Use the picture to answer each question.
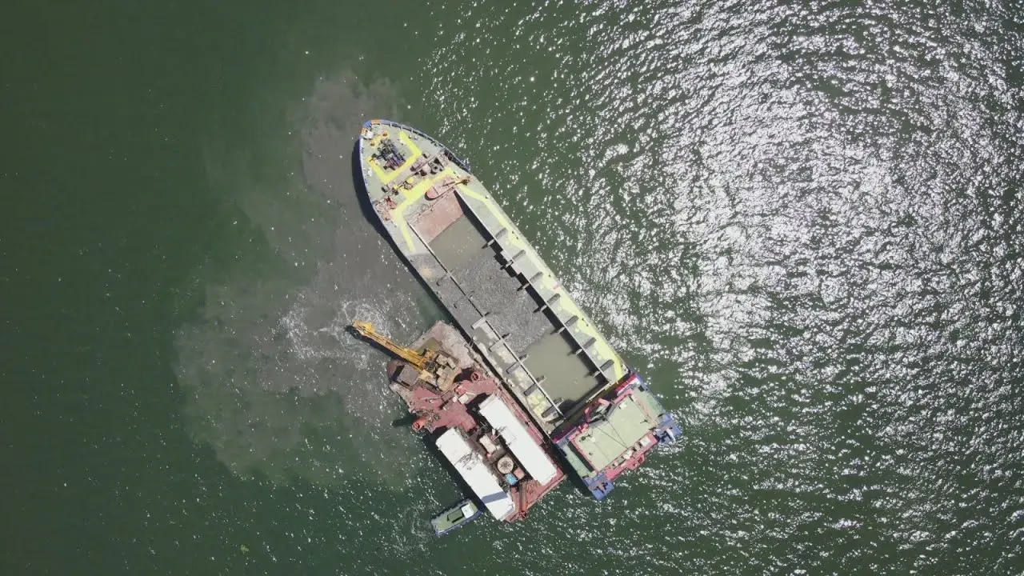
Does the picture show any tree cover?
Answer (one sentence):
No, tree cover can't be seen anywhere here.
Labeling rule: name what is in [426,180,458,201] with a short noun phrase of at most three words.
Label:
boat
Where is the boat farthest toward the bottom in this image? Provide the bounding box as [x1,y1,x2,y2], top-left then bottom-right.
[432,499,482,537]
